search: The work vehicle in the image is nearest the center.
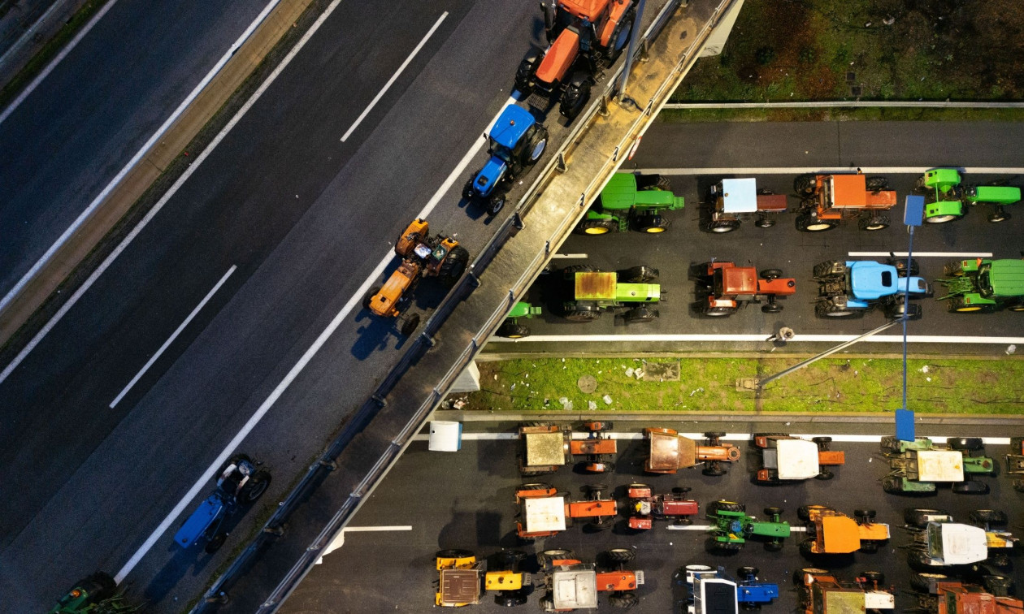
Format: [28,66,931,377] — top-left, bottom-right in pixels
[487,289,541,342]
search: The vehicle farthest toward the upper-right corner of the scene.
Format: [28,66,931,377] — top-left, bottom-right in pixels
[908,173,1021,230]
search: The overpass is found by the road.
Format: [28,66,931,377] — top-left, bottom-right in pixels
[0,0,744,614]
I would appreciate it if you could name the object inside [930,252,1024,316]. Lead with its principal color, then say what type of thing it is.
green work vehicle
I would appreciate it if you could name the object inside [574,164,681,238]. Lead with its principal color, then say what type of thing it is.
green work vehicle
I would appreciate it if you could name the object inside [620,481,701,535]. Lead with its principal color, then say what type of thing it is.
red work vehicle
